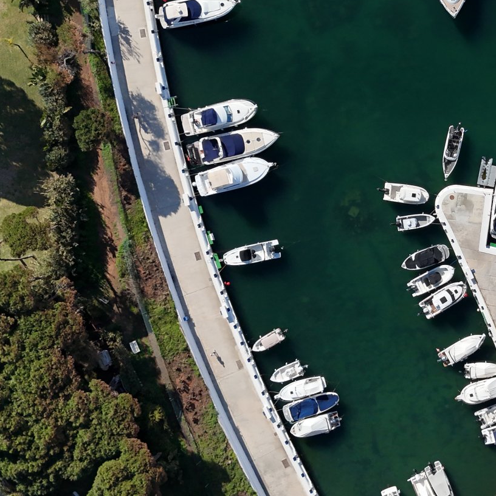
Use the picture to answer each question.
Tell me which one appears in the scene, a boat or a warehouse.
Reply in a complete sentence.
I can see a boat in this picture.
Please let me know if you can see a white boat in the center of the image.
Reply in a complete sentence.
Yes, a white boat is visible in the center of the image.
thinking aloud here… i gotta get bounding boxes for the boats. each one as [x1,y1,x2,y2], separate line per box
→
[291,410,342,439]
[442,116,465,181]
[453,376,496,405]
[399,243,450,269]
[413,284,470,319]
[190,158,275,196]
[274,372,328,401]
[389,211,438,231]
[181,103,259,135]
[403,265,455,299]
[409,469,433,496]
[221,238,282,265]
[153,0,241,31]
[270,358,308,383]
[374,182,431,205]
[188,127,280,163]
[460,359,496,381]
[477,425,496,445]
[432,333,486,369]
[383,481,400,496]
[471,404,496,430]
[283,392,341,424]
[423,457,458,496]
[252,326,287,351]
